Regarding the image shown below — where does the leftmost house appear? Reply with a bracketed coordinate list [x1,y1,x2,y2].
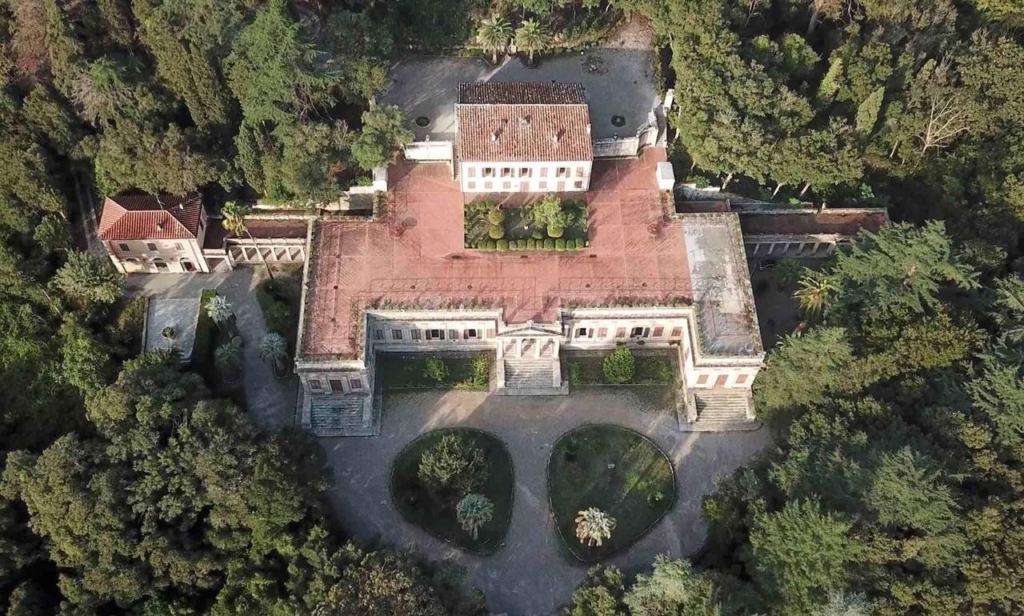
[98,189,211,274]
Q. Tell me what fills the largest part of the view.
trees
